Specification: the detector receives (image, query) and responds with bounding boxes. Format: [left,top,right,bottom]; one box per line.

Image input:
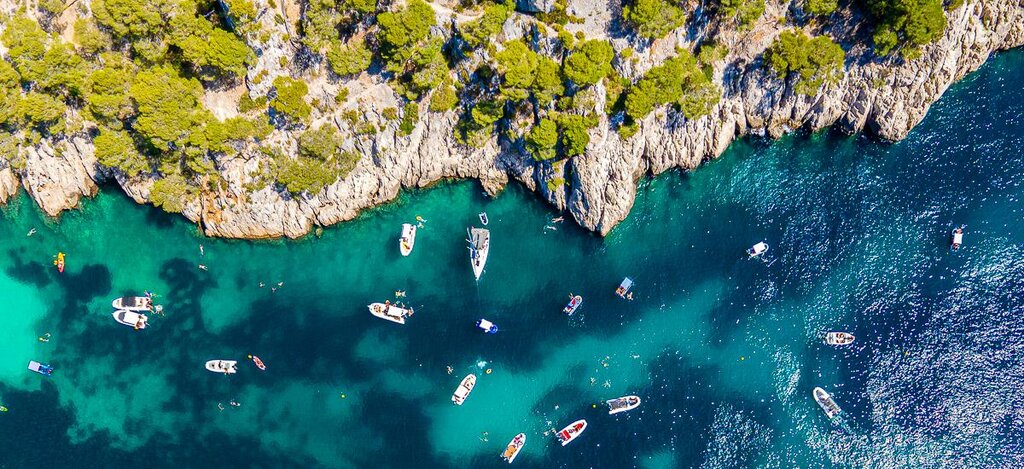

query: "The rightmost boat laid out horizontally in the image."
[823,331,855,345]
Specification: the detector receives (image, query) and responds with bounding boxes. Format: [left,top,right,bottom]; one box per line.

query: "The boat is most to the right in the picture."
[950,229,964,252]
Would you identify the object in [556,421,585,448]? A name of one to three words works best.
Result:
boat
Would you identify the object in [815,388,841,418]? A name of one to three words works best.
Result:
boat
